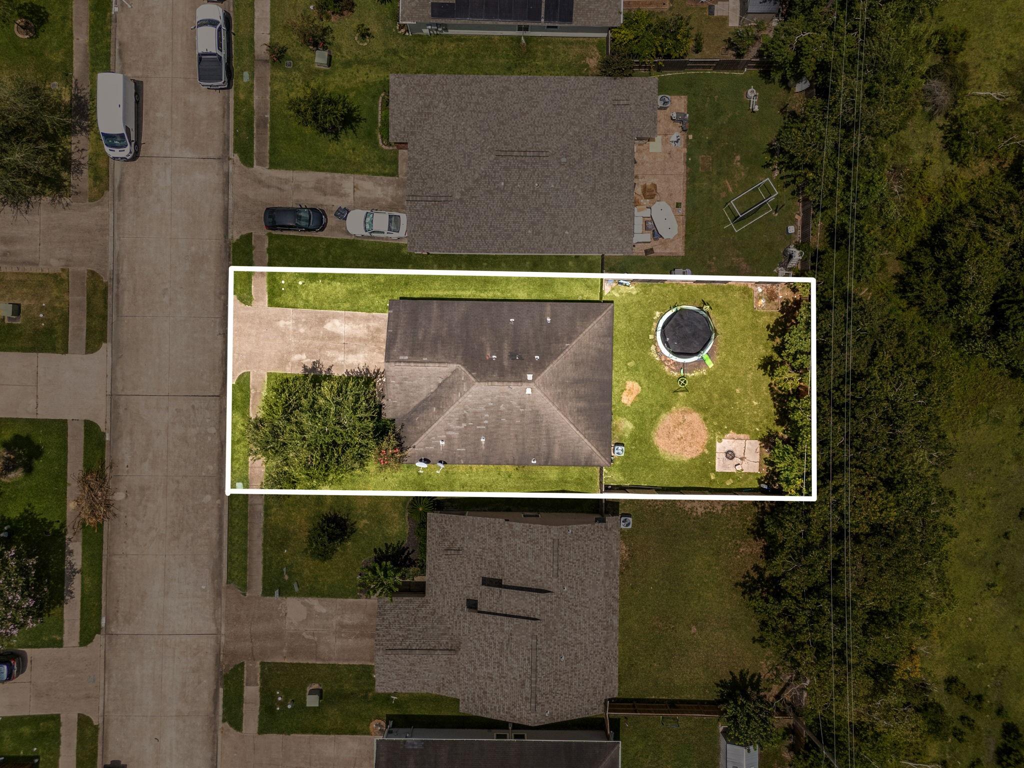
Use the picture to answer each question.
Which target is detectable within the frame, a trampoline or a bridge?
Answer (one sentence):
Of the two, only a trampoline appears.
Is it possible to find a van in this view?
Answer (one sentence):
Yes, looking at the shot, I can spot a van.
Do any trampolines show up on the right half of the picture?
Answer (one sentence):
Yes, a trampoline is visible on the right half of the picture.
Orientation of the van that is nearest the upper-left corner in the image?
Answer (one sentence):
From this overhead view, the van that is nearest the upper-left corner appears to run up and down.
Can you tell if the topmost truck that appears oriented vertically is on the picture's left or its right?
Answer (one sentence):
You can find the topmost truck that appears oriented vertically on the left side of the picture.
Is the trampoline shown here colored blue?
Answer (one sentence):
No, the color of the trampoline is black.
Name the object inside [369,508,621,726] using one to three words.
house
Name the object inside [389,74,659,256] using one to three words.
house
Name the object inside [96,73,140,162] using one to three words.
van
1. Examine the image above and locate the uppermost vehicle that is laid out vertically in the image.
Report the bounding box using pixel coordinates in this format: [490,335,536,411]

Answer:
[191,6,230,92]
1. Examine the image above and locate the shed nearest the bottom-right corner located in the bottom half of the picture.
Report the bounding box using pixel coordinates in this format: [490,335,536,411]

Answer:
[726,732,762,768]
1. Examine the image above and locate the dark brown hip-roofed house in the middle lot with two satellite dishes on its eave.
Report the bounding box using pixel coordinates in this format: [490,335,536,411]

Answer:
[386,300,615,474]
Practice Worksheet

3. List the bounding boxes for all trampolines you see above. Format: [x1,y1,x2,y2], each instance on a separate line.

[656,303,719,383]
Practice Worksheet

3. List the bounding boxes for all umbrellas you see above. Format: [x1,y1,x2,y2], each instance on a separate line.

[651,202,677,239]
